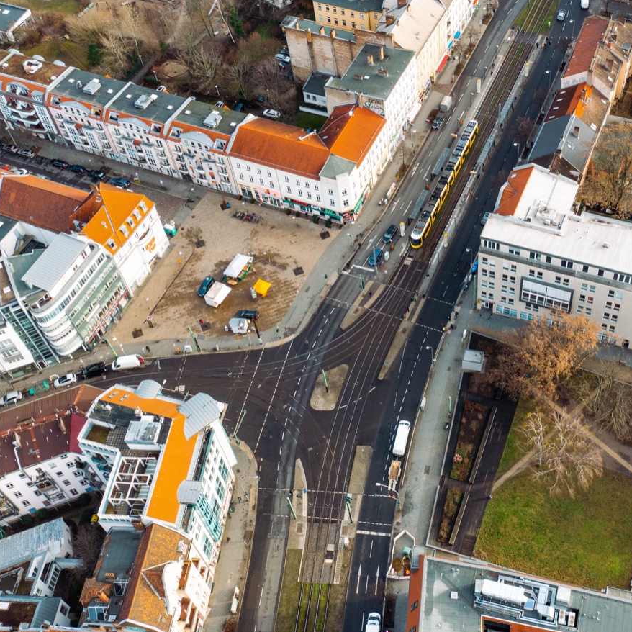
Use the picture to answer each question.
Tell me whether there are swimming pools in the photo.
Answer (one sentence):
No, this view has no swimming pool in it.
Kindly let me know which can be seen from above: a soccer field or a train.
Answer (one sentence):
Of the two, only a train appears.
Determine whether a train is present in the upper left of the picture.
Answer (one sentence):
No, there is no train in the upper left of the picture.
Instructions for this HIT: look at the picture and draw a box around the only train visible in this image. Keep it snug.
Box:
[411,121,476,243]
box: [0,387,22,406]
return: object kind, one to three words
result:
car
